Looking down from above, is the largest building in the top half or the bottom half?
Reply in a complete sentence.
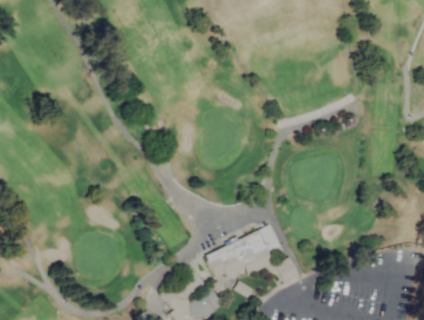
The bottom half of the photo is where the largest building is.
